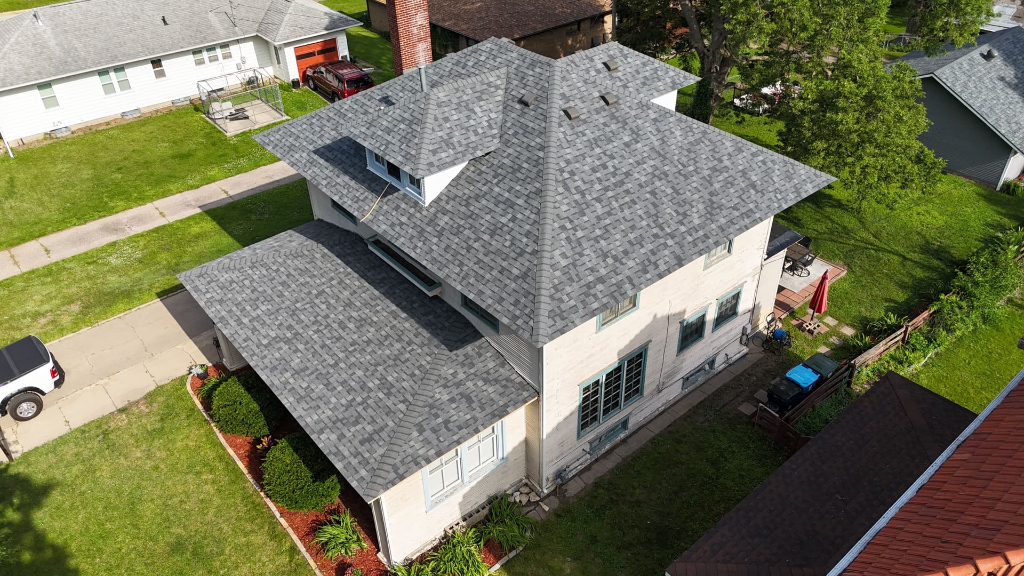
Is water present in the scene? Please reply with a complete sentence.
No, there's no water in this view.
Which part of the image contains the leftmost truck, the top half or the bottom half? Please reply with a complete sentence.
Seen from above, the leftmost truck lies in the bottom half of the view.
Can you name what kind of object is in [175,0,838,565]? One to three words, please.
house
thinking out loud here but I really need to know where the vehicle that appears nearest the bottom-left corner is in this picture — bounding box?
[0,331,76,419]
